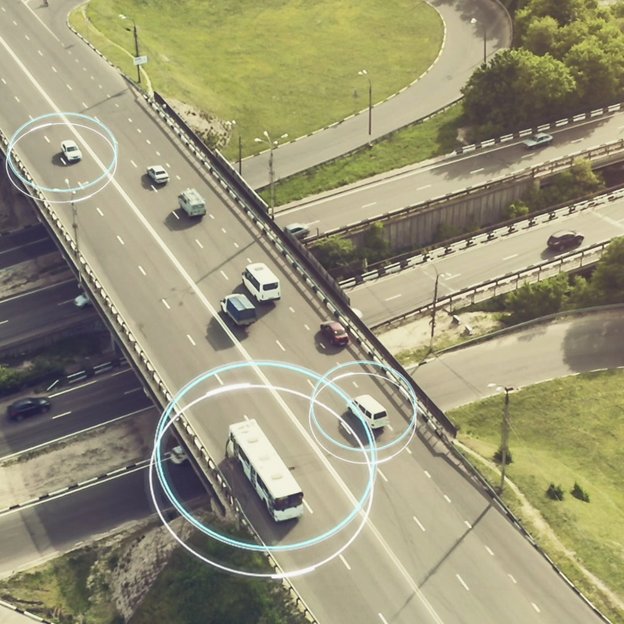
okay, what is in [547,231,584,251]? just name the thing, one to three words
car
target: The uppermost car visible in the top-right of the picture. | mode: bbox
[523,133,554,149]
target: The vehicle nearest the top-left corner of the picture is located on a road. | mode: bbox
[61,142,82,161]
